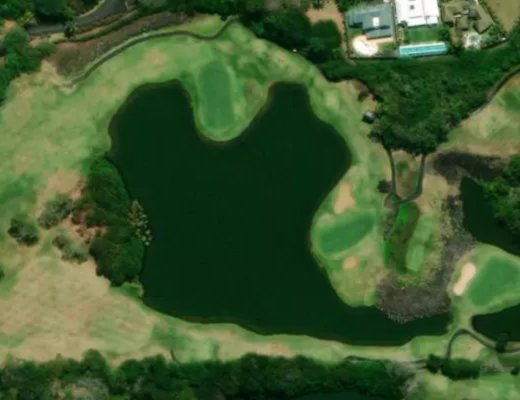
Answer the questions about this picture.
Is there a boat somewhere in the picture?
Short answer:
No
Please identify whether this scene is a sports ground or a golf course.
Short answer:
golf course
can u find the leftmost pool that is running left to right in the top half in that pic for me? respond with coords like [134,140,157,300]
[399,44,445,57]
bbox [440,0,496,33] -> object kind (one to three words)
house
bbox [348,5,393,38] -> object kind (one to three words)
house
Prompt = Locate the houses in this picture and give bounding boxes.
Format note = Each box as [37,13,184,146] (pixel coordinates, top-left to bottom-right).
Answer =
[440,0,496,33]
[396,0,440,27]
[348,5,393,38]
